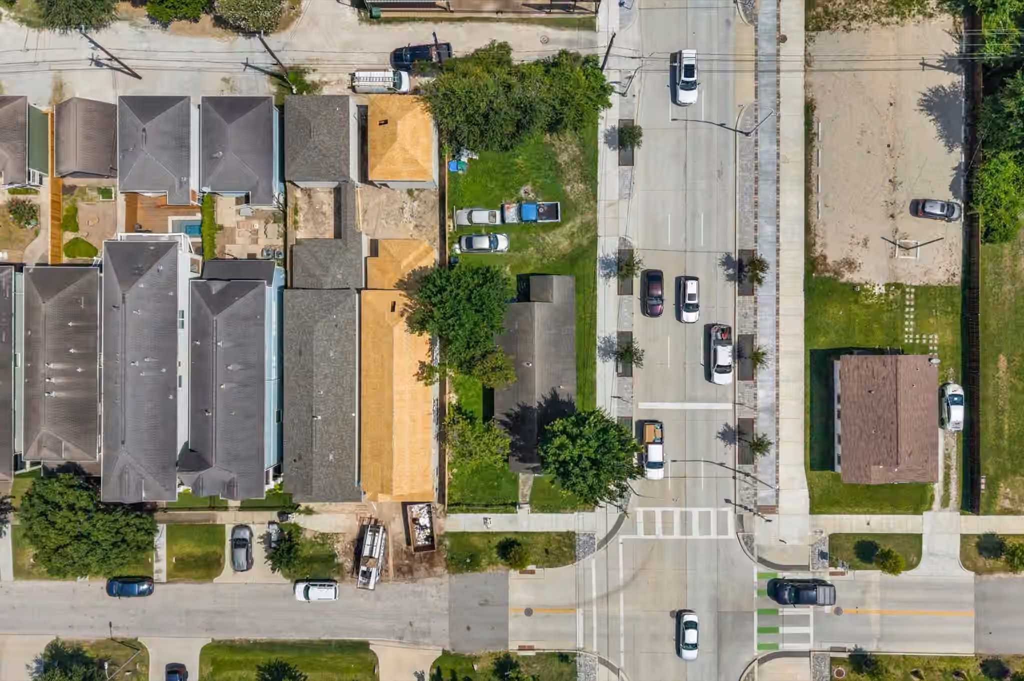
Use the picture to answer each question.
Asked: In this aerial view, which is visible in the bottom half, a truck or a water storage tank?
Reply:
truck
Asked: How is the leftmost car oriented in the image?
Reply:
from left to right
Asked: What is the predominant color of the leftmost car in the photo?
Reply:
blue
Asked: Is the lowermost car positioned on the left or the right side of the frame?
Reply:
left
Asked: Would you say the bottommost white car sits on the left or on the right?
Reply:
right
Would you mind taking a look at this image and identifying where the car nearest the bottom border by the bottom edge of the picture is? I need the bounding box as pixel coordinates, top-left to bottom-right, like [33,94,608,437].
[166,661,190,681]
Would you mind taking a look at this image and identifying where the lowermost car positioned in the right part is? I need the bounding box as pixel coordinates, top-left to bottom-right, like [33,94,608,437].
[678,612,701,661]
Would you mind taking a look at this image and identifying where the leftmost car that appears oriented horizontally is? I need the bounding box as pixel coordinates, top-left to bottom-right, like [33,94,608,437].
[108,575,156,598]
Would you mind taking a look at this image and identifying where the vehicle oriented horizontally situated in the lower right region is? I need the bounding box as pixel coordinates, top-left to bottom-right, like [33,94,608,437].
[769,578,834,606]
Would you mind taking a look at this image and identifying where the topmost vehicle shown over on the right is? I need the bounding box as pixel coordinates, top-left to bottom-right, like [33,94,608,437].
[675,52,700,104]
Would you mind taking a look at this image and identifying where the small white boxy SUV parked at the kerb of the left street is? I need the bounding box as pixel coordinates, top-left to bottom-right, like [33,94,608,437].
[296,579,339,603]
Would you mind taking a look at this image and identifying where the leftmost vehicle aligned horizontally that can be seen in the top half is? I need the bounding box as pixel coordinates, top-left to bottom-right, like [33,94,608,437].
[350,68,409,94]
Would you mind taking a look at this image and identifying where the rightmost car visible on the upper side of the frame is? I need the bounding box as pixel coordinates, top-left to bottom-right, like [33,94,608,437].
[910,199,957,223]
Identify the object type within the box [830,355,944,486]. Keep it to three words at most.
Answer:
house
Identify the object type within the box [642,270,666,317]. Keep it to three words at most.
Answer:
car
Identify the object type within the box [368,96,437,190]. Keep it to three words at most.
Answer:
building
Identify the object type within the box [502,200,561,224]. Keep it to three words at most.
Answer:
truck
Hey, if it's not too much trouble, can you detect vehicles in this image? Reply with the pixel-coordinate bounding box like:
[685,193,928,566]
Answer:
[353,522,387,596]
[459,231,509,255]
[769,578,834,606]
[642,270,666,317]
[678,277,702,323]
[709,323,735,384]
[675,52,700,104]
[502,200,561,224]
[456,205,501,228]
[350,68,409,94]
[910,199,957,223]
[296,579,339,603]
[166,661,190,681]
[678,612,701,661]
[108,575,156,598]
[230,523,255,570]
[938,385,964,431]
[393,43,453,71]
[642,420,667,480]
